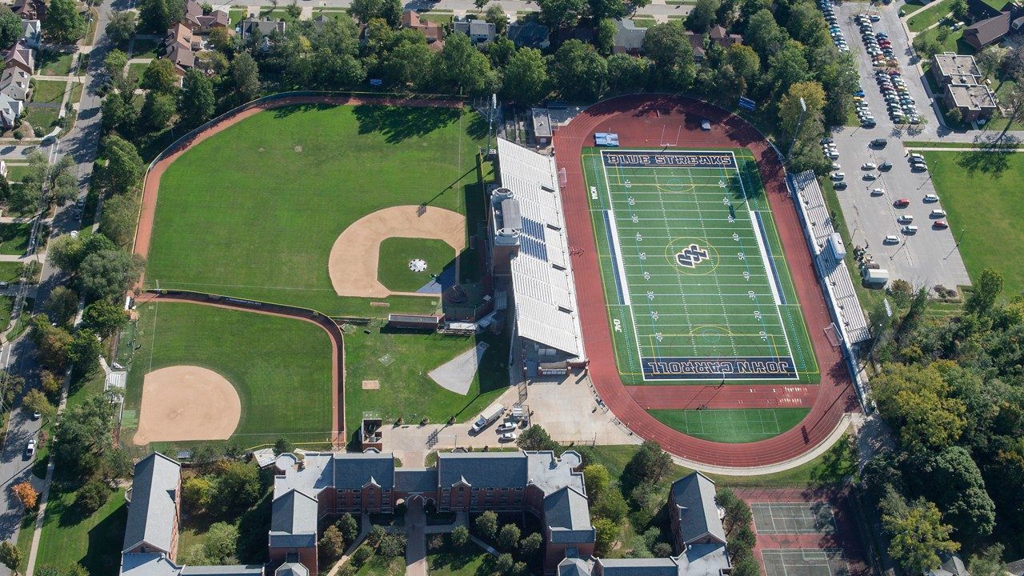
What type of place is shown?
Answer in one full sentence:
What you see here is a sports ground.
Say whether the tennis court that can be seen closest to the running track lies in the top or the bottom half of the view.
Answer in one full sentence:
The tennis court that can be seen closest to the running track is in the bottom half of the image.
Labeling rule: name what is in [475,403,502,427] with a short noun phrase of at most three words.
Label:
truck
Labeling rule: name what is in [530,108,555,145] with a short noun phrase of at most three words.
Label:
building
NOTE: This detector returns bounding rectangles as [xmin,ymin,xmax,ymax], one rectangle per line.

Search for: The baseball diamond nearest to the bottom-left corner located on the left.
[116,294,345,454]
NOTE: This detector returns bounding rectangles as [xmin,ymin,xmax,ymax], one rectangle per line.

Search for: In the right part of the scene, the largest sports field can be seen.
[580,145,822,386]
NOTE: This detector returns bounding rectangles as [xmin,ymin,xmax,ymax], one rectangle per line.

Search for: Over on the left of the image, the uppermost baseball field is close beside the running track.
[133,94,490,318]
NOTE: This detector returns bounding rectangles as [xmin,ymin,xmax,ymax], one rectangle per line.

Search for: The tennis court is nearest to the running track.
[748,500,842,536]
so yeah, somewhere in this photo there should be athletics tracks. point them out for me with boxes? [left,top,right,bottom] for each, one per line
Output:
[557,94,849,467]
